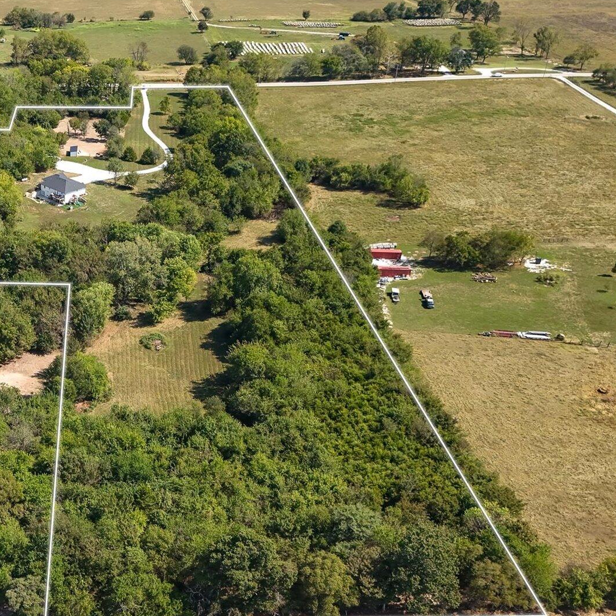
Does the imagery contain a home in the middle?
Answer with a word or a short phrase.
No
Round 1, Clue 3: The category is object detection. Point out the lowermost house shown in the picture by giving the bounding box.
[37,176,90,207]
